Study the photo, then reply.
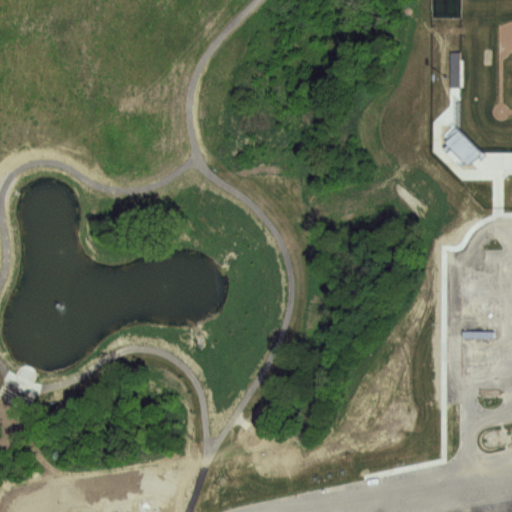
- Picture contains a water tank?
No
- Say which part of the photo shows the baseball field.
top right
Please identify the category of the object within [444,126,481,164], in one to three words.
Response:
building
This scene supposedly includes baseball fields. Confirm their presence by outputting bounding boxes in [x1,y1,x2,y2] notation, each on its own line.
[462,0,512,151]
